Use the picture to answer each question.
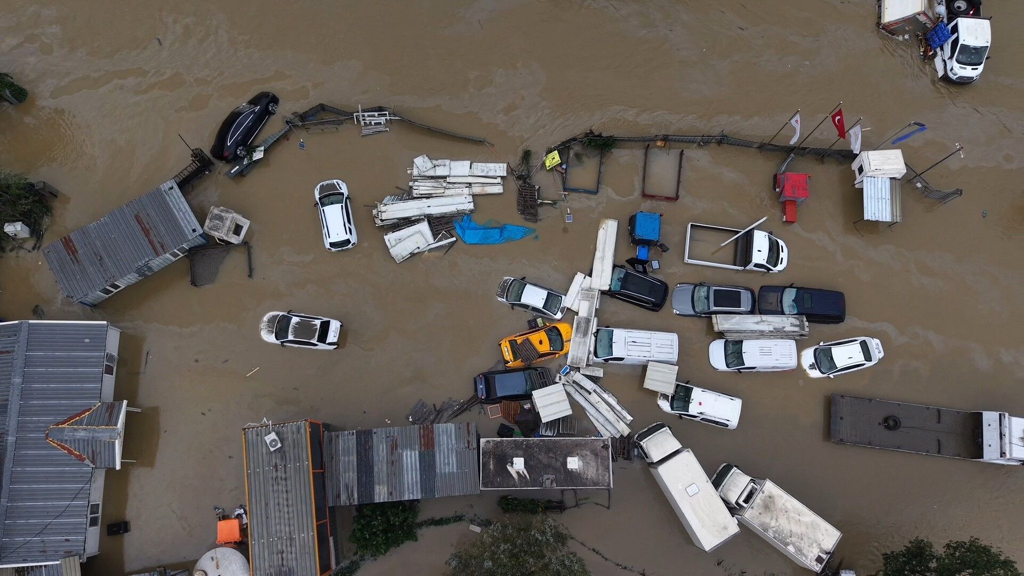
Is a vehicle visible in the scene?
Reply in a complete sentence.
Yes, the picture does show a vehicle.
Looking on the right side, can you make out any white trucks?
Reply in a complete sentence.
Yes, there is a white truck on the right side.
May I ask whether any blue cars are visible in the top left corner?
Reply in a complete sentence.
No, no blue car appears in the top left corner.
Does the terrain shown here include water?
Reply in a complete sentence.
Yes, there's water in this view.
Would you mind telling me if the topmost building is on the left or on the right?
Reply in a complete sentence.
The topmost building appears in the right half of the scene.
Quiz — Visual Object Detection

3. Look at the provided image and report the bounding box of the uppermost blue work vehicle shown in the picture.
[626,214,662,263]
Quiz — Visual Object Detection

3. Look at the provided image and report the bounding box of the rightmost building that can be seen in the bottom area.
[480,437,614,490]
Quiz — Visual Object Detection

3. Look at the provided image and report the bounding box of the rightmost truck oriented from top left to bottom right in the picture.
[706,456,841,573]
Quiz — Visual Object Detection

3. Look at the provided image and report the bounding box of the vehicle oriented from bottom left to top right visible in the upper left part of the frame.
[208,93,271,161]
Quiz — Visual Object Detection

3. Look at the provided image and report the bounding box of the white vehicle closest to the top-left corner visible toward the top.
[313,179,359,255]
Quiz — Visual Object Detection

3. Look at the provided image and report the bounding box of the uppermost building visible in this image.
[855,149,907,181]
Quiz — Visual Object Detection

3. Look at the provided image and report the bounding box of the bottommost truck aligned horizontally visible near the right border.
[829,393,1024,463]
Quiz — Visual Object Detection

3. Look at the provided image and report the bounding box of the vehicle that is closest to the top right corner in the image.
[943,0,997,91]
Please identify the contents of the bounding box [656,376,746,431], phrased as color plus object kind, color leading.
white van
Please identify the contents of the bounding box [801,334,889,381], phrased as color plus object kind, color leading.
white car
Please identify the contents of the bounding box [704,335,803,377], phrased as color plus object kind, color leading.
white van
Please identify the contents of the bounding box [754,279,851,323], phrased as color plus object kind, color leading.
black car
